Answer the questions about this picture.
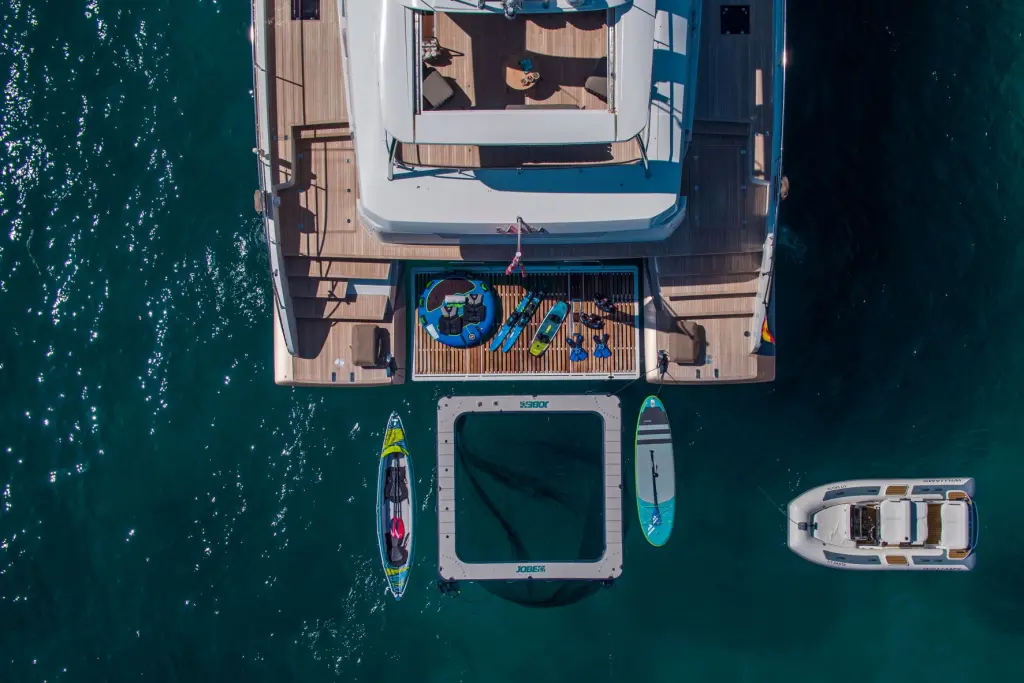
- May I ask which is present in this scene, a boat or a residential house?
boat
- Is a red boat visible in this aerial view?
No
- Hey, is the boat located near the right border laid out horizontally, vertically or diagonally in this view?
horizontally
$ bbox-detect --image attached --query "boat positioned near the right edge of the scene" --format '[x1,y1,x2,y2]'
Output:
[789,478,978,571]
